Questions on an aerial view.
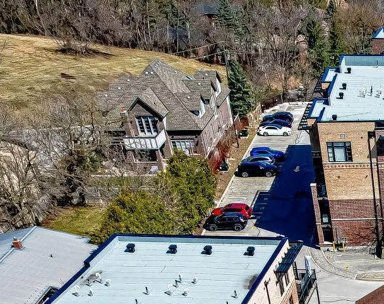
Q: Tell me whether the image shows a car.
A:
Yes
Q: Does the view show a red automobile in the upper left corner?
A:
No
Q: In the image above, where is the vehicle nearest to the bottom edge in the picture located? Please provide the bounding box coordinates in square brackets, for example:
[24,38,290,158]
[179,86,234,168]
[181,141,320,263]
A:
[207,213,252,233]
